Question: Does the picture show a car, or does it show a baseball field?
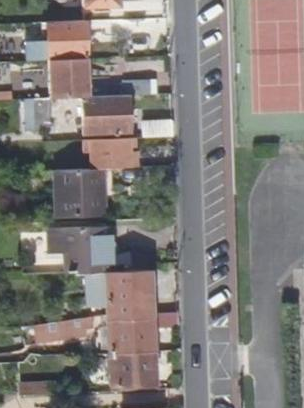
car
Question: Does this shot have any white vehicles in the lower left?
No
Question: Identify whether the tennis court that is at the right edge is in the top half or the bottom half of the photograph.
top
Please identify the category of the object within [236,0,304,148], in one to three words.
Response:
tennis court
